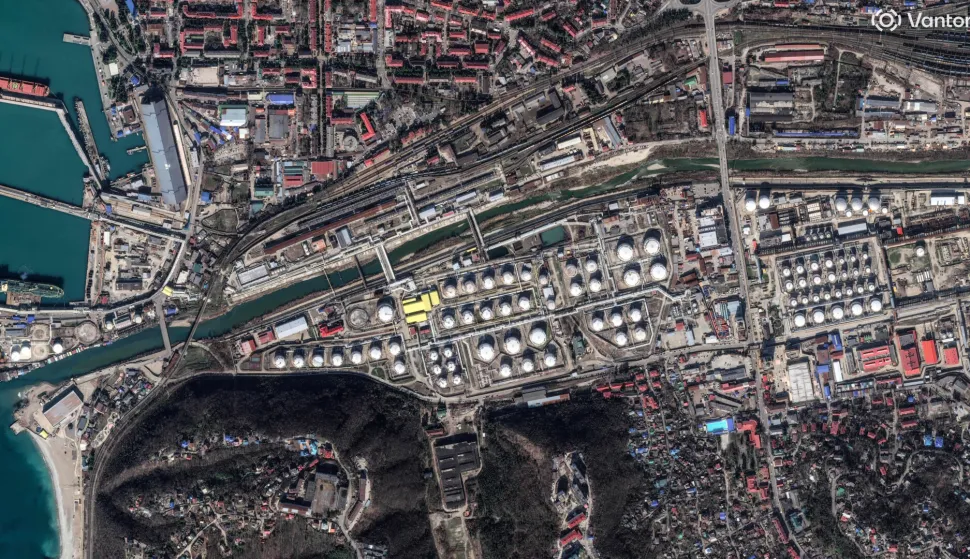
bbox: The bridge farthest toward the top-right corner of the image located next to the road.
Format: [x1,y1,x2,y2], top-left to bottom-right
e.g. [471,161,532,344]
[704,0,753,340]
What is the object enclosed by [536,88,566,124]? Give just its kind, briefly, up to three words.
building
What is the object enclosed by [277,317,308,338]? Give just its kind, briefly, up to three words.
building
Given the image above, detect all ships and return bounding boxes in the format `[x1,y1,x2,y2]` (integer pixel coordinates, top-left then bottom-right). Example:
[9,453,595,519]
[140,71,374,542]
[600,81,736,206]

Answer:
[0,77,49,95]
[0,281,64,298]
